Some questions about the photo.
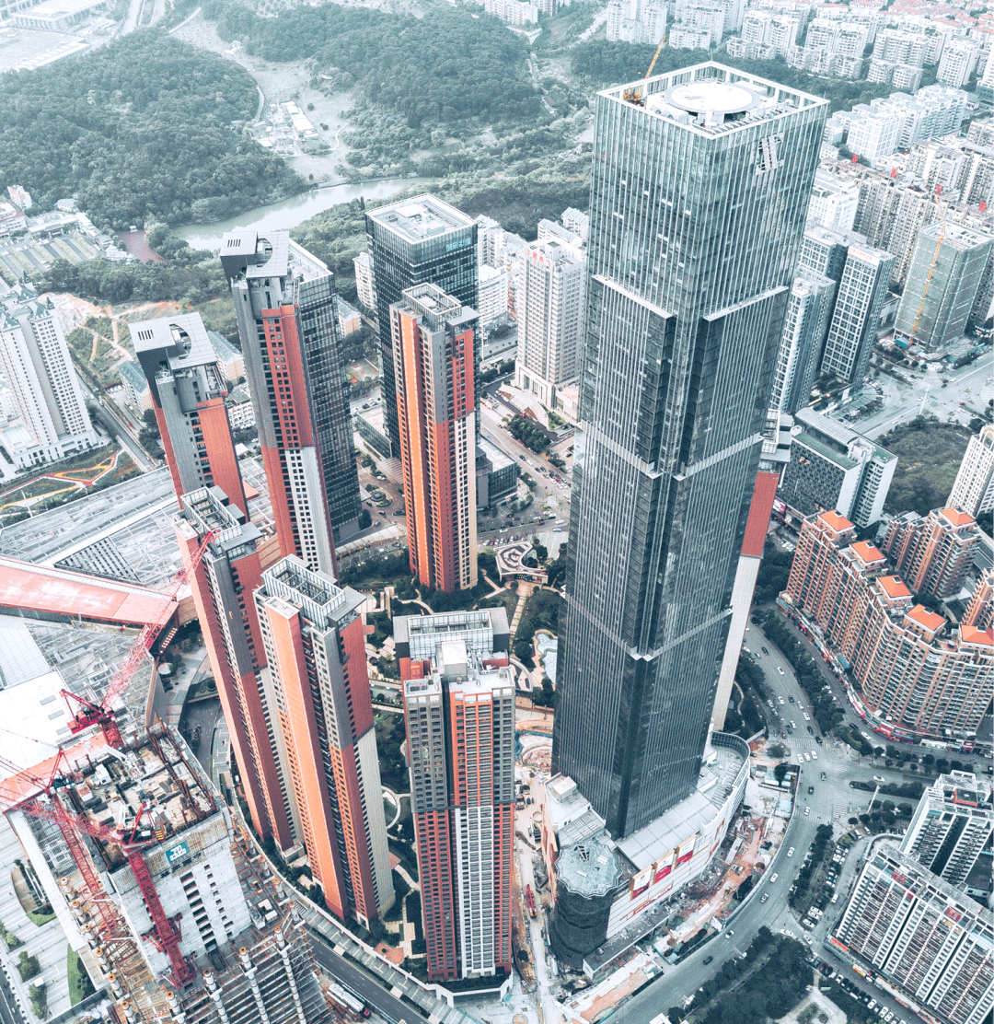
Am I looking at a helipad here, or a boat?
helipad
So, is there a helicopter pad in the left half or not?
No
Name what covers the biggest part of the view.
buildings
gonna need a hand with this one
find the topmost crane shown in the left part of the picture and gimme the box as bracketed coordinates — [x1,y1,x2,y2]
[89,577,192,762]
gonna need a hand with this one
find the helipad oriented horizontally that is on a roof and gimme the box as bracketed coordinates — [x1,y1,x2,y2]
[665,82,762,130]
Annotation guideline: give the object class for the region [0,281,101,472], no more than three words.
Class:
building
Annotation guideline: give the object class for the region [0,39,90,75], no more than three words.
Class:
building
